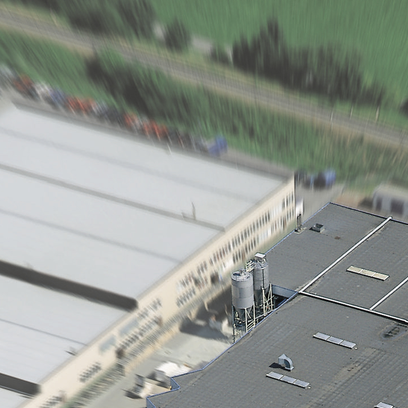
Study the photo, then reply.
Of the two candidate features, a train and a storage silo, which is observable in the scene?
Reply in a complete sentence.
The one in the frame is a storage silo.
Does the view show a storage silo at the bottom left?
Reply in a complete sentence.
No, looking at the bottom left, there is no storage silo.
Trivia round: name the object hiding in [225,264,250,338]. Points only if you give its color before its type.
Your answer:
gray silo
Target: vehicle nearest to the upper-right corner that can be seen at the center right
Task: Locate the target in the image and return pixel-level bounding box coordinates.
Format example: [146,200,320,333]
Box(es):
[304,171,334,192]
